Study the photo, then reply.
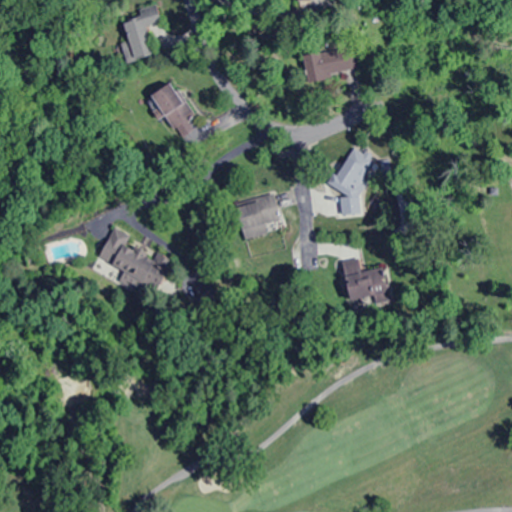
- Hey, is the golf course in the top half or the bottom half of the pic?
bottom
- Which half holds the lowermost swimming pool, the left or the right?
left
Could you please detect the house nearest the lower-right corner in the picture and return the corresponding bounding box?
[342,258,392,306]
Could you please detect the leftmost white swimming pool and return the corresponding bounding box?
[46,238,87,264]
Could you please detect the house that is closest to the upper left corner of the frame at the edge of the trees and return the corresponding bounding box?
[122,4,160,62]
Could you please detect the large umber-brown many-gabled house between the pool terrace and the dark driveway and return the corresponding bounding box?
[96,224,170,290]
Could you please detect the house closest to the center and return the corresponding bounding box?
[238,193,286,238]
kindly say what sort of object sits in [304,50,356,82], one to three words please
house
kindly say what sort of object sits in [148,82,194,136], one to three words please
house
